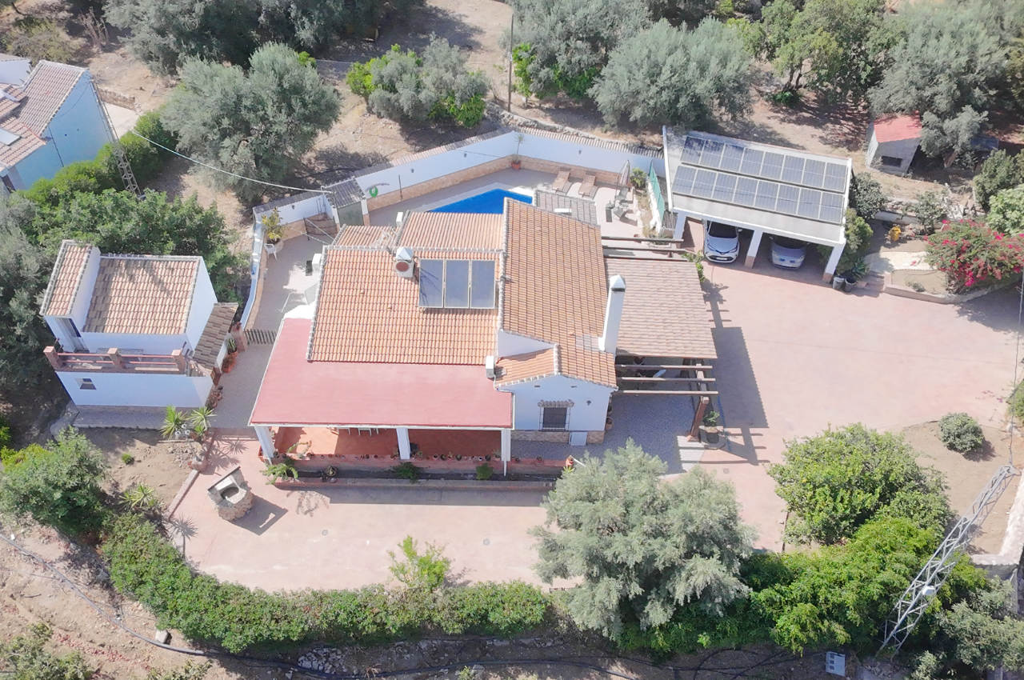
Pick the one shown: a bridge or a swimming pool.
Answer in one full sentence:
Looking from above, you can make out a swimming pool.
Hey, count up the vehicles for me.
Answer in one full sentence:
Looking from above, you can make out 2 vehicles.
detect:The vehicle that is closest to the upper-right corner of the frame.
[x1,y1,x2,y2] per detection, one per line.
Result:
[772,235,812,267]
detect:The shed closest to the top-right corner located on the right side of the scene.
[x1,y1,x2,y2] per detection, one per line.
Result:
[869,122,925,177]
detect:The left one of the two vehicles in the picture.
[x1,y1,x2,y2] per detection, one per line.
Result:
[704,221,750,261]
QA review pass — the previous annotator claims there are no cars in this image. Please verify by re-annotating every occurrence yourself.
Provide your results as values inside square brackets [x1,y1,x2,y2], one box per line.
[704,221,750,261]
[772,235,812,267]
